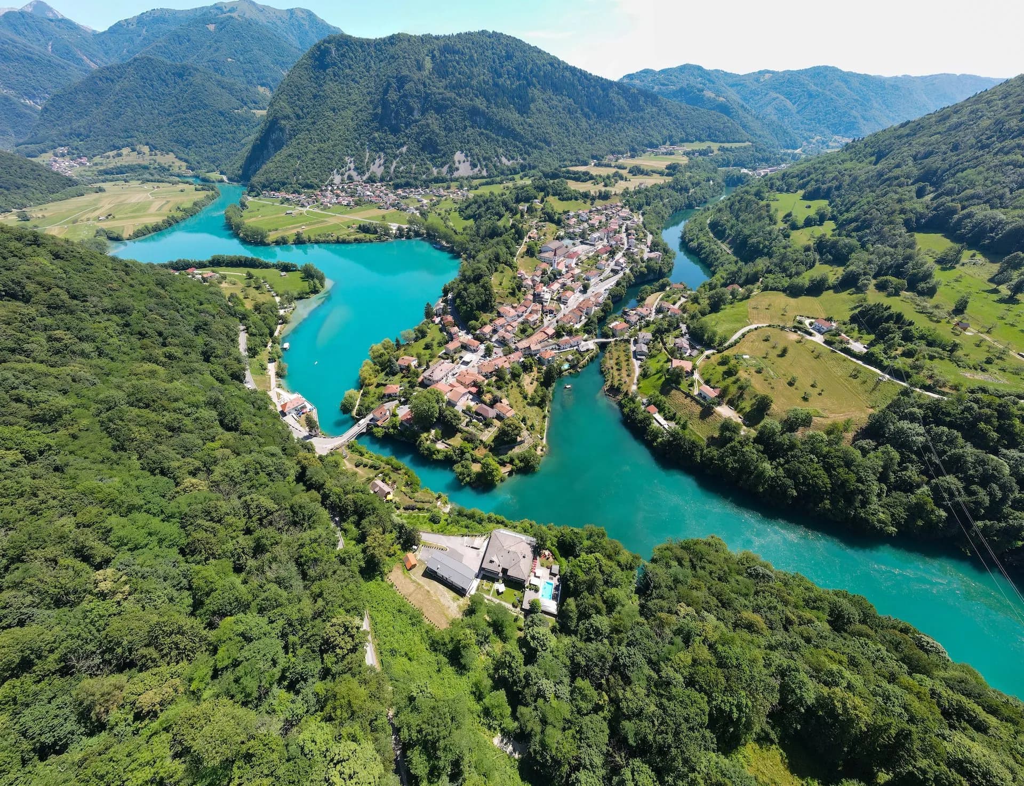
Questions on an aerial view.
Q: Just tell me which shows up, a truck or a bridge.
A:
bridge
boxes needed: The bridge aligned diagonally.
[334,409,381,449]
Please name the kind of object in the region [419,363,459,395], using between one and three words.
house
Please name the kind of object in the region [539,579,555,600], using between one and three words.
swimming pool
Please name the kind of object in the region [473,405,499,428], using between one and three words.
house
